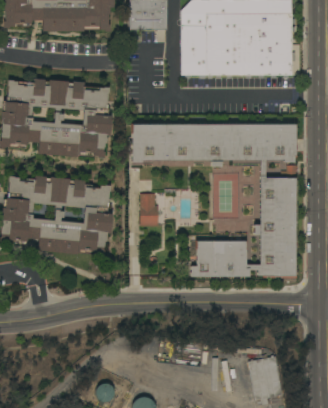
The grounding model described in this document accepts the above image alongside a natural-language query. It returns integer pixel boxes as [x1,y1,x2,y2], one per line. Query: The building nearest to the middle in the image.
[140,193,158,226]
